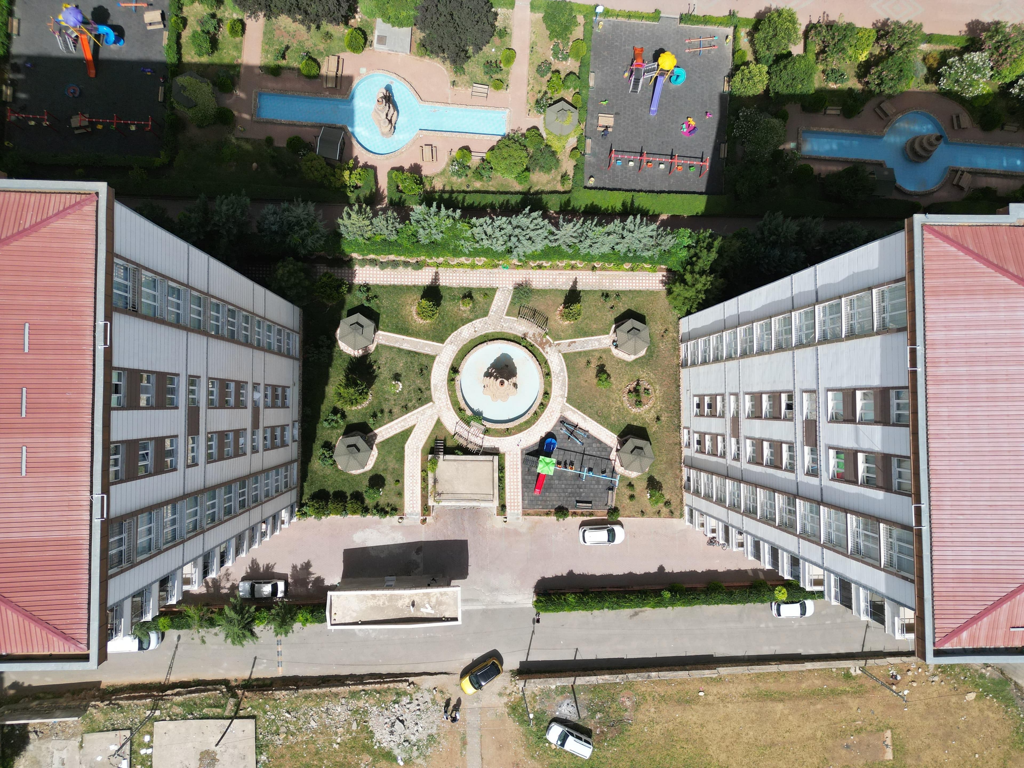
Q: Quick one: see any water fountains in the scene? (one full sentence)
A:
Yes, this view includes a water fountain.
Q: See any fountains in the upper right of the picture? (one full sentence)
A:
Yes, I can see a fountain in the upper right of the picture.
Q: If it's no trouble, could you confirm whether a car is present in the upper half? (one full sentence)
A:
No, there is no car in the upper half.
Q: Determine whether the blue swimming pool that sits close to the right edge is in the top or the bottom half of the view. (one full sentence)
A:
It is in the top half that the blue swimming pool that sits close to the right edge appears.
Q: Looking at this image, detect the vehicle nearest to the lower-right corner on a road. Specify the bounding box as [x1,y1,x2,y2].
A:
[770,597,813,620]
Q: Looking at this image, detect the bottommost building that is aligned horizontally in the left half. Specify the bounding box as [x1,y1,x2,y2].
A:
[326,574,461,629]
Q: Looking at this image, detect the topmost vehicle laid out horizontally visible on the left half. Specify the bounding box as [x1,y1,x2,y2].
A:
[239,578,288,600]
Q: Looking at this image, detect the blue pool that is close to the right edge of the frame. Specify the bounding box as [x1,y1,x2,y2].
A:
[800,107,1024,192]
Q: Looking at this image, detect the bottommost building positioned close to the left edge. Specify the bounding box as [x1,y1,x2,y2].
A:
[0,180,299,670]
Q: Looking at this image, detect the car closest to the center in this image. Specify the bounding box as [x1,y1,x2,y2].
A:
[578,523,624,547]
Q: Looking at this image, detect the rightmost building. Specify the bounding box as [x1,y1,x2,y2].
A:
[682,203,1024,664]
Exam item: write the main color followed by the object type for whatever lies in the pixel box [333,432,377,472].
gray gazebo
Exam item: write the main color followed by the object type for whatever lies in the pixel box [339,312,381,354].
gray gazebo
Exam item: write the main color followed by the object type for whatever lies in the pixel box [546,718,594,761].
white car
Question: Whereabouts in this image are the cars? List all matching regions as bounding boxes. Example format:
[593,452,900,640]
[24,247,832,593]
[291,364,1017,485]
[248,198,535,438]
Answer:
[546,718,594,761]
[770,597,813,620]
[109,629,161,655]
[460,655,504,697]
[239,578,288,600]
[578,523,624,547]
